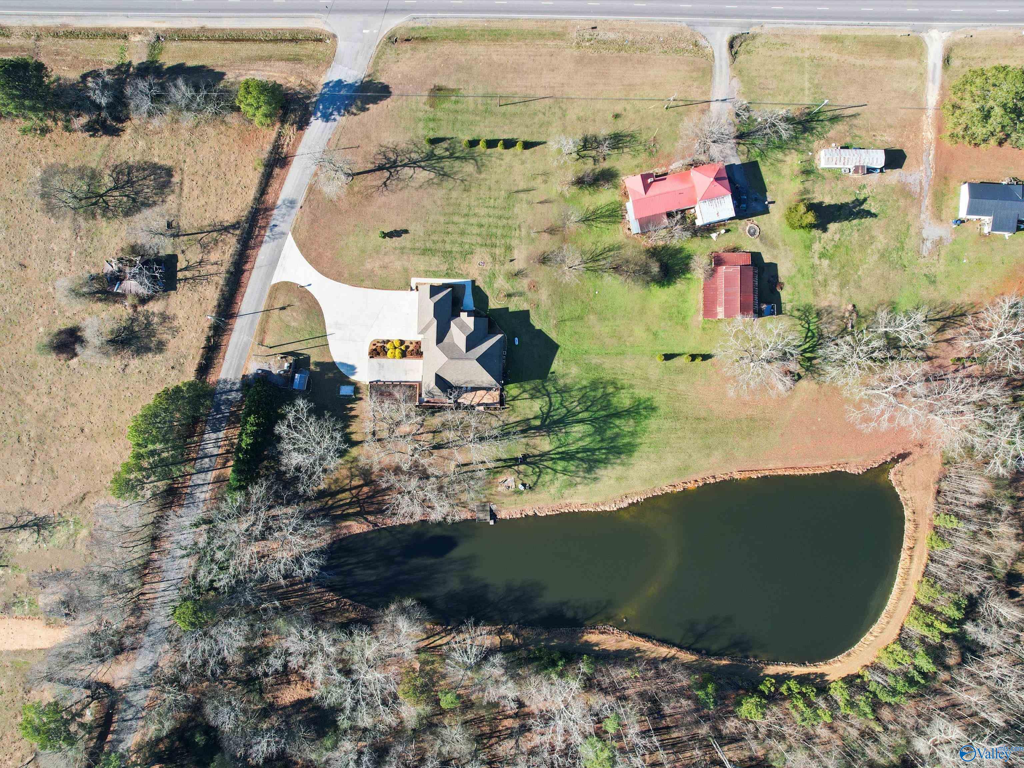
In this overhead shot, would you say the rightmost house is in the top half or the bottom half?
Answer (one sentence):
The rightmost house sits in the top half of the picture.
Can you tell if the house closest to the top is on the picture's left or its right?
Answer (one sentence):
The house closest to the top appears in the right half of the scene.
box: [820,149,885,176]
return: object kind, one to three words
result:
house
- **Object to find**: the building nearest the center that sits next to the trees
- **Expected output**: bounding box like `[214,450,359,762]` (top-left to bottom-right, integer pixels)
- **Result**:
[418,283,503,397]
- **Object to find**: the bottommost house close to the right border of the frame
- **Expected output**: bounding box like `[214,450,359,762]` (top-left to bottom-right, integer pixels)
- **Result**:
[961,183,1024,233]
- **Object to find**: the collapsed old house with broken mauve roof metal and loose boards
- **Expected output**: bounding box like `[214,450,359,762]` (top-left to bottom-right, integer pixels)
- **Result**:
[102,254,170,294]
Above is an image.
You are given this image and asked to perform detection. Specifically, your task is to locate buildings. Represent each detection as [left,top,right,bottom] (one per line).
[102,254,170,294]
[418,283,503,397]
[961,183,1024,233]
[293,374,309,390]
[820,149,885,176]
[624,162,735,234]
[703,266,758,319]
